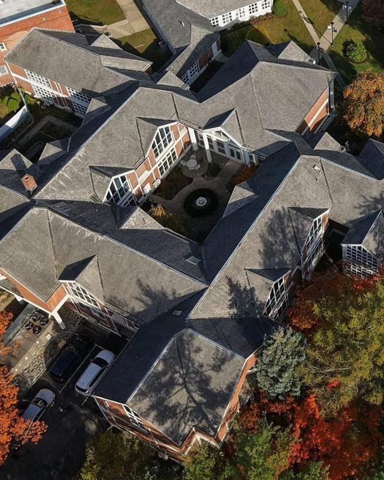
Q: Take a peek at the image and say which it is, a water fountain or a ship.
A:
water fountain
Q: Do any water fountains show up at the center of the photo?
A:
Yes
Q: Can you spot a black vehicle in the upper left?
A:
No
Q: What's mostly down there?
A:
buildings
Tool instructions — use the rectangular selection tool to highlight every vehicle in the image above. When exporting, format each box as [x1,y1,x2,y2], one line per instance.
[44,341,88,387]
[13,391,55,439]
[71,350,117,398]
